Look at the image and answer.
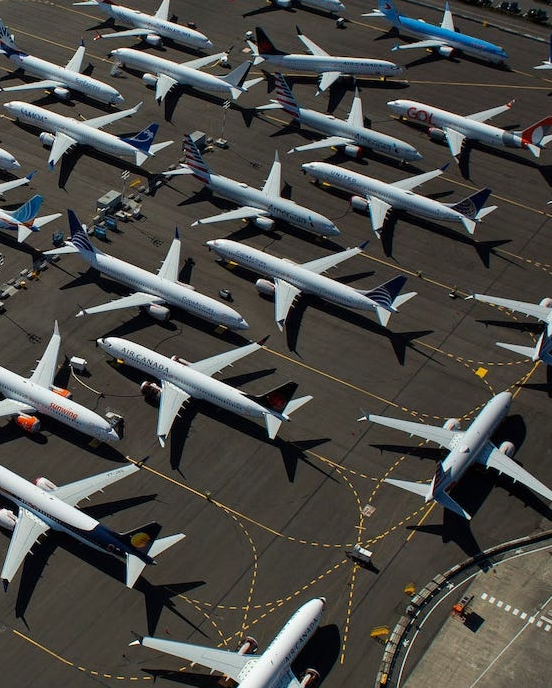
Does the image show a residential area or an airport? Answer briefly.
airport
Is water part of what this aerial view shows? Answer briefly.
No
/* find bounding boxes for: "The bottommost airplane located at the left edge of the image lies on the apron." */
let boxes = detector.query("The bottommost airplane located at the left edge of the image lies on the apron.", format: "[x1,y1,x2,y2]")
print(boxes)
[0,458,185,593]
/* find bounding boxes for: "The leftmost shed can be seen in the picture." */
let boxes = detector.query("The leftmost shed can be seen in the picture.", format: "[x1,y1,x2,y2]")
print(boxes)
[95,190,123,215]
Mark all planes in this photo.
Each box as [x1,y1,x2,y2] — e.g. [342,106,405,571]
[42,209,248,332]
[464,288,552,365]
[5,100,174,171]
[0,458,185,593]
[357,391,552,521]
[386,97,552,162]
[97,336,314,447]
[360,0,511,61]
[532,32,552,68]
[245,25,404,96]
[0,19,124,106]
[302,161,500,241]
[160,132,342,238]
[128,598,328,688]
[110,47,263,106]
[207,237,418,332]
[73,0,213,50]
[254,70,424,163]
[0,170,62,242]
[0,322,119,440]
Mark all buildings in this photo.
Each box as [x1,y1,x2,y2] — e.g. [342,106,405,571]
[189,130,205,148]
[95,190,123,215]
